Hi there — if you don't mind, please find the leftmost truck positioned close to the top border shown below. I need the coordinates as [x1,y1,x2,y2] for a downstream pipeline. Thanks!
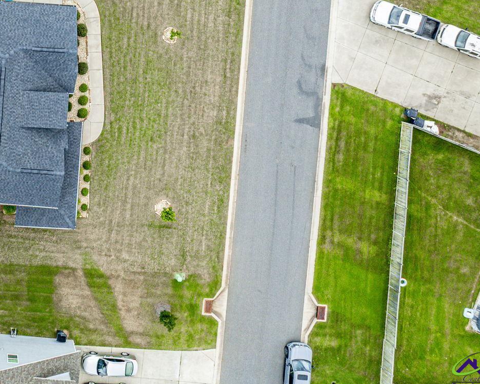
[368,1,445,42]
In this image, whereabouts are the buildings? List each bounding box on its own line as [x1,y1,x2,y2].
[0,0,84,231]
[0,335,81,384]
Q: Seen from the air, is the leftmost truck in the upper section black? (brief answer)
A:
No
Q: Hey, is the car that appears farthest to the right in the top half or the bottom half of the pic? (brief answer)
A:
top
